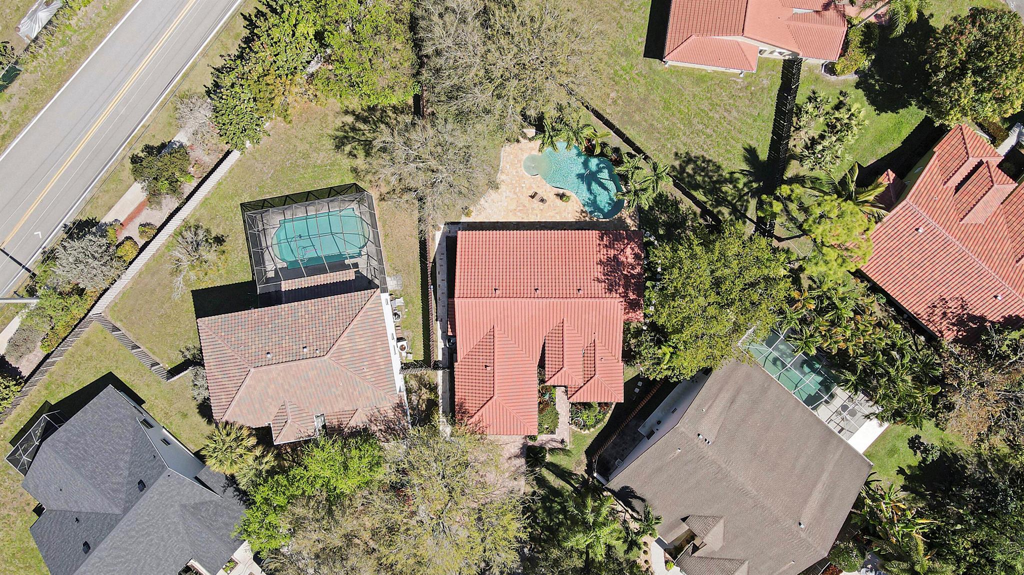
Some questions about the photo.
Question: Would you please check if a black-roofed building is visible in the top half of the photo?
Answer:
No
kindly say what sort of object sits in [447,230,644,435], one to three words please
house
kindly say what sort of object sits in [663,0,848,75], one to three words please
house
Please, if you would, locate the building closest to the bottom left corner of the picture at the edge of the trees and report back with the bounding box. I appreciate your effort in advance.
[22,384,251,575]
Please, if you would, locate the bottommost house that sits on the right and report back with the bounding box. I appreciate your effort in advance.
[604,346,874,575]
